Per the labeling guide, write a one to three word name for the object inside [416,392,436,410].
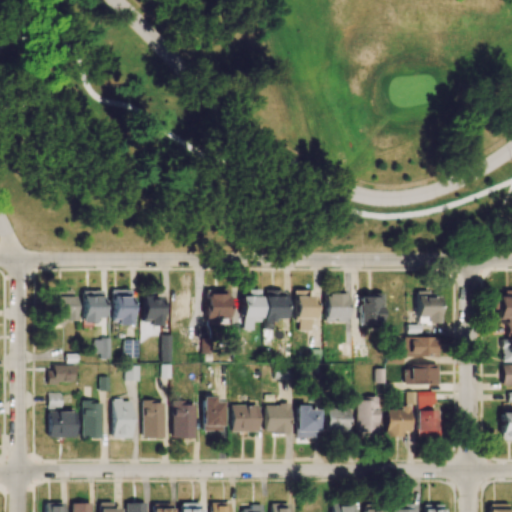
building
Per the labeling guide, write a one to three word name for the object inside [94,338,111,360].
building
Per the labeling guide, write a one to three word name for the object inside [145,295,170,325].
house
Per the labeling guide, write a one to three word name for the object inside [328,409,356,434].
house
